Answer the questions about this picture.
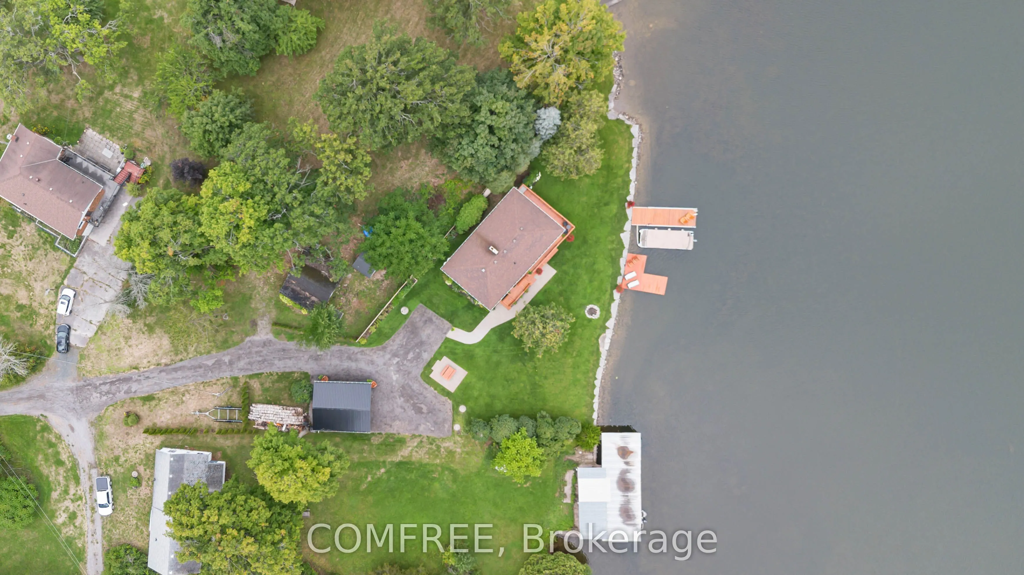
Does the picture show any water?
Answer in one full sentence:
Yes, there's water in this view.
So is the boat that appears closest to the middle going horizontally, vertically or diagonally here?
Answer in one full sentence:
Seen from above, the boat that appears closest to the middle lies horizontally.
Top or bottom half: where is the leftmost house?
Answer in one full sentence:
You can find the leftmost house in the top half.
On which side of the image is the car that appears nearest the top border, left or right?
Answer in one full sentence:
The car that appears nearest the top border sits on the left side.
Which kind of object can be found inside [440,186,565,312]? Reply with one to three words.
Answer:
house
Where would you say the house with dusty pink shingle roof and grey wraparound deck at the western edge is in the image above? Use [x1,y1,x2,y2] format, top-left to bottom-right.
[0,123,107,240]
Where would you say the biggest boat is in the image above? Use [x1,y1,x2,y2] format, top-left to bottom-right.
[638,229,695,250]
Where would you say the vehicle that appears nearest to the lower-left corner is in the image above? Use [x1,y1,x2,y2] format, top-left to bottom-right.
[96,475,115,517]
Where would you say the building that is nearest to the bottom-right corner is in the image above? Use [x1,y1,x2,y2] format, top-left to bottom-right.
[577,430,641,542]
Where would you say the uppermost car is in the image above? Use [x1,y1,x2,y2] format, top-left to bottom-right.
[58,286,78,318]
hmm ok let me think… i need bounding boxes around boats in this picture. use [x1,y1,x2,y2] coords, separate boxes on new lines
[641,513,647,527]
[638,229,695,250]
